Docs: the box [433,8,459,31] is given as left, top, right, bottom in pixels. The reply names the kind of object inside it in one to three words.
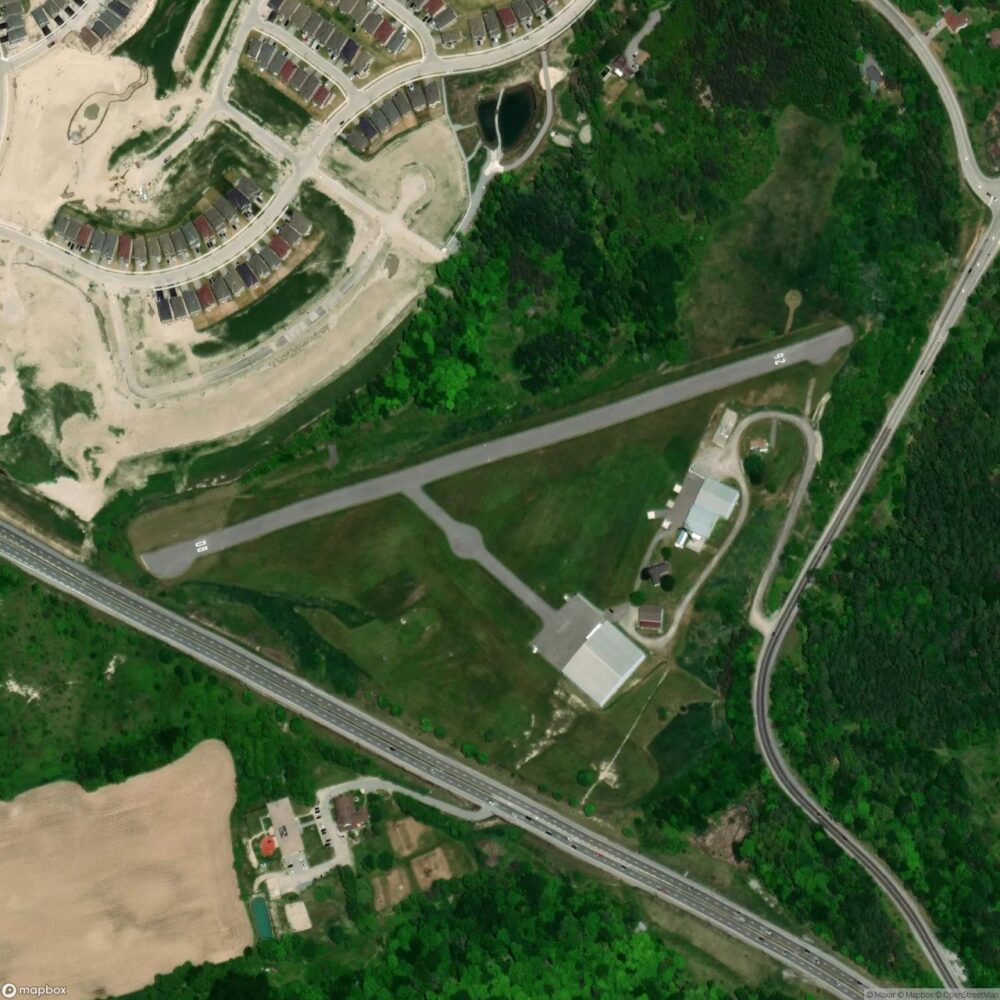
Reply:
house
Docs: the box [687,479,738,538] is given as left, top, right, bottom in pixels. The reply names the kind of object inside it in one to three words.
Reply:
hangar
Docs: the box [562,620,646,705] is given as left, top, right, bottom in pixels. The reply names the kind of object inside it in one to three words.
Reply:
hangar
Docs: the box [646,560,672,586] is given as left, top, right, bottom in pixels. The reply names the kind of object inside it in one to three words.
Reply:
house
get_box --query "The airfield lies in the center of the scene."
[141,325,854,671]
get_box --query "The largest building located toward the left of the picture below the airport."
[268,798,305,857]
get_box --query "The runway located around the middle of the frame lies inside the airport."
[141,325,854,581]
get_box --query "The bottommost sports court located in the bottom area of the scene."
[285,902,312,932]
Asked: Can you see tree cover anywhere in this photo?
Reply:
Yes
